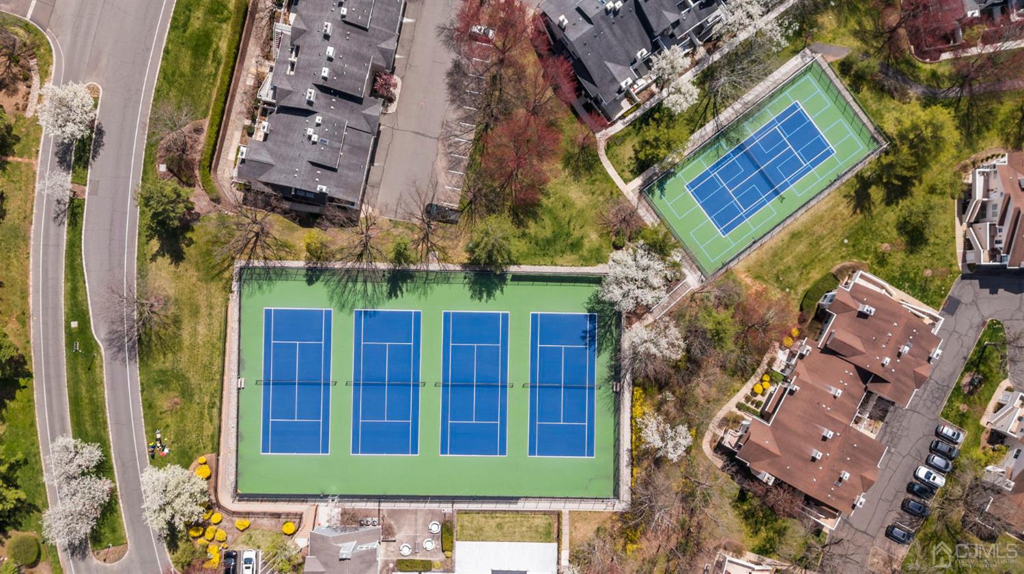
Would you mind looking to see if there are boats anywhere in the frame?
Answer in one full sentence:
No, the photo shows no boat.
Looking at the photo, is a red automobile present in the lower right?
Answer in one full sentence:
No, there is no red automobile in the lower right.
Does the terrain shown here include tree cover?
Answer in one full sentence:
Yes, tree cover shows up in the scene.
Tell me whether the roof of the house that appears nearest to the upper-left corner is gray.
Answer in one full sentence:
Yes, the roof of the house that appears nearest to the upper-left corner is gray.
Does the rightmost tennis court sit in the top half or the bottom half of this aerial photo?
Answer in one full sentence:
You can find the rightmost tennis court in the top half.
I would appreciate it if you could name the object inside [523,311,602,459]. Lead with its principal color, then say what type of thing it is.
blue tennis court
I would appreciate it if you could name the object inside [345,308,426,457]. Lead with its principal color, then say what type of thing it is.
blue tennis court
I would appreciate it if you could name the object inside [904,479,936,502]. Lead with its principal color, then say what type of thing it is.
black car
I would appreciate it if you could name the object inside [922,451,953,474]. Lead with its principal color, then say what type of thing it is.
gray car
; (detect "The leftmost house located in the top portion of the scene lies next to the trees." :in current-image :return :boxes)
[232,0,414,214]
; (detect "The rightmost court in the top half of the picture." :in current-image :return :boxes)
[647,64,879,272]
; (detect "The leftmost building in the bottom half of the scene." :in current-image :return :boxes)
[305,520,383,574]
